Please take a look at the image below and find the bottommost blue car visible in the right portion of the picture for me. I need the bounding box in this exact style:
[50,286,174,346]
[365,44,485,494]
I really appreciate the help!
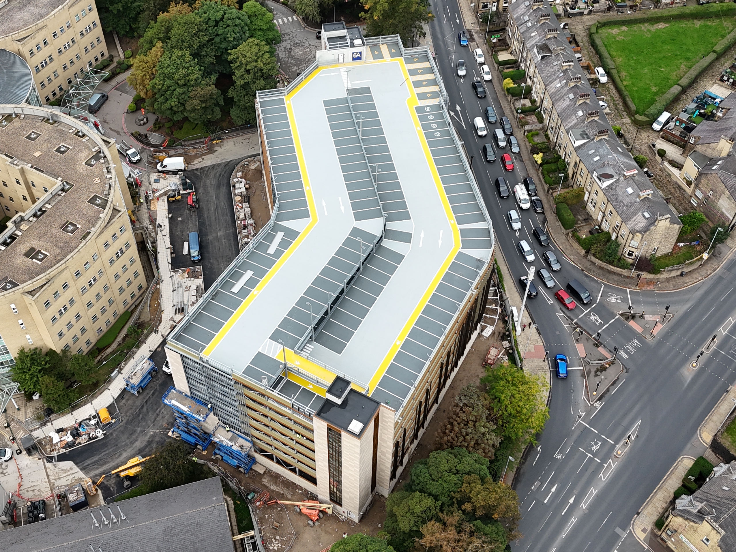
[554,354,569,380]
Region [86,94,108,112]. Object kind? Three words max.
vehicle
